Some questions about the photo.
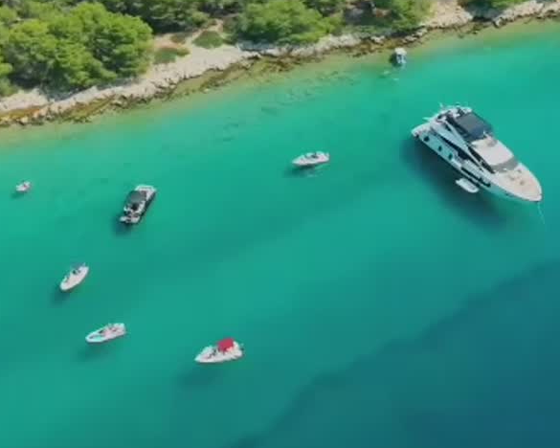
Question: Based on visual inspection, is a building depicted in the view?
No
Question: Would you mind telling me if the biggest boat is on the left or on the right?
right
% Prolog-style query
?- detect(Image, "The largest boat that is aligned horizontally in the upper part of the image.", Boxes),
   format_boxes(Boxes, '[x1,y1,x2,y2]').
[292,156,331,169]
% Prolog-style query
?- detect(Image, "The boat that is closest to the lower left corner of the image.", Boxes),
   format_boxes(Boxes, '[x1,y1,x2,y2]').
[86,326,129,345]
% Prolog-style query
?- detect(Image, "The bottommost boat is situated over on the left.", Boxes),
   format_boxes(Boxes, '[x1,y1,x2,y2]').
[196,343,244,367]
